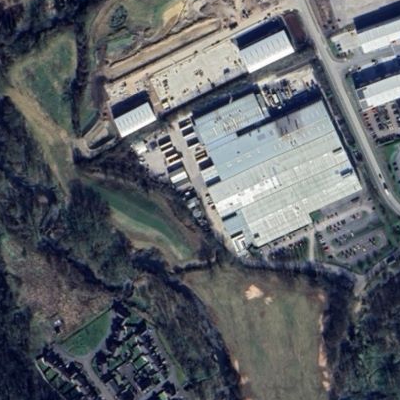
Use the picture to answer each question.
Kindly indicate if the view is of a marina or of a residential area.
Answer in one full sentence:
This image shows a residential area.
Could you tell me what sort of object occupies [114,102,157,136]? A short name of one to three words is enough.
building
